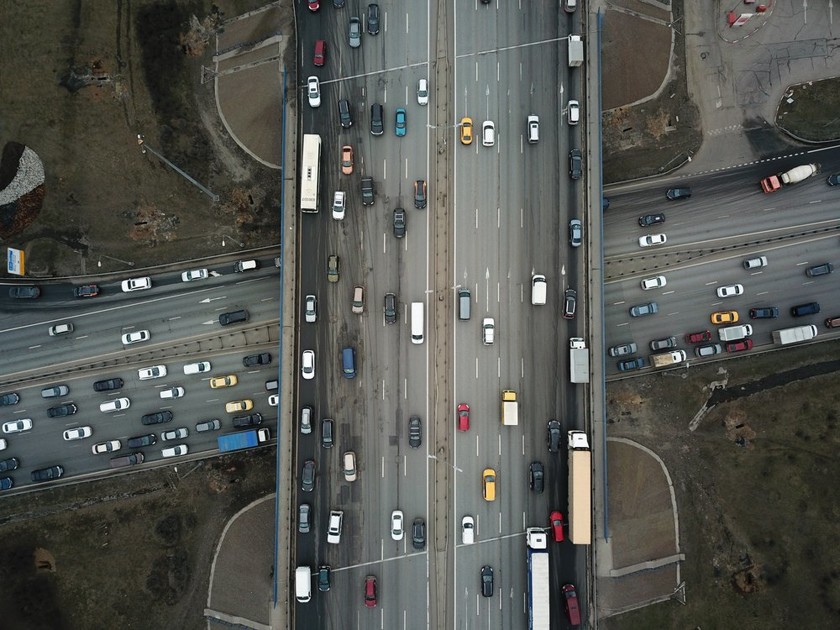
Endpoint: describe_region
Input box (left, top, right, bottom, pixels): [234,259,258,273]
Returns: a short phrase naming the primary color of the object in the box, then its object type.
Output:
white vehicle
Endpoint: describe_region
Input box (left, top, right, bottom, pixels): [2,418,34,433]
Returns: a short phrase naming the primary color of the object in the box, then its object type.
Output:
white car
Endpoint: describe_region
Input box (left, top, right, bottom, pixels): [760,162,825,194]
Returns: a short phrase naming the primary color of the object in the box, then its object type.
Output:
white truck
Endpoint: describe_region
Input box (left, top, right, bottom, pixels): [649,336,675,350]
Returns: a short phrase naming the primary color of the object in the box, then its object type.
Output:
gray vehicle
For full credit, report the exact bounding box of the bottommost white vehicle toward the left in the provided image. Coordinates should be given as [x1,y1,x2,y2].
[295,566,311,603]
